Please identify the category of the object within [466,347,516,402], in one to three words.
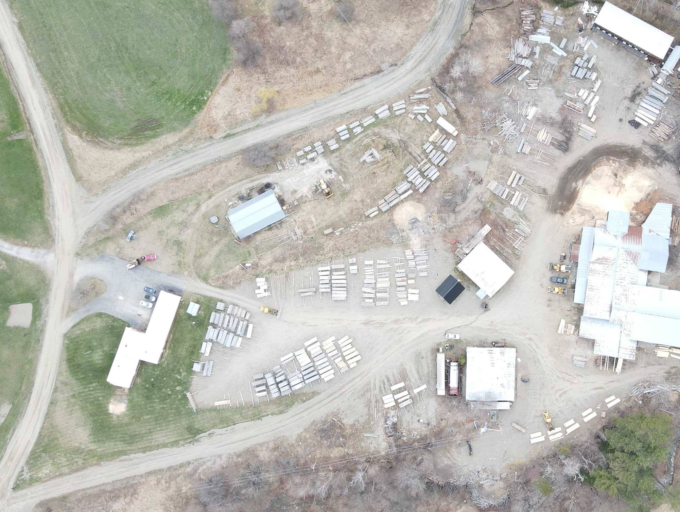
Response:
building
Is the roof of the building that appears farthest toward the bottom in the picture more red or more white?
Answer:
white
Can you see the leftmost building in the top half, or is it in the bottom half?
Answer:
bottom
